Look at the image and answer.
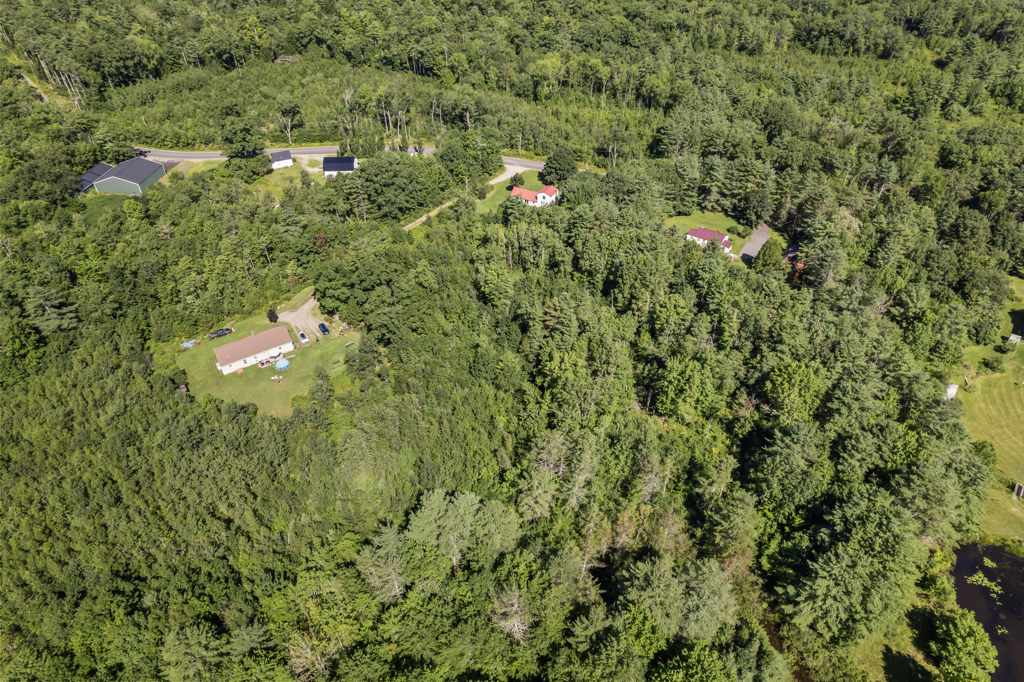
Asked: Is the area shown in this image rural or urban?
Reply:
rural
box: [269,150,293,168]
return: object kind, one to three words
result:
house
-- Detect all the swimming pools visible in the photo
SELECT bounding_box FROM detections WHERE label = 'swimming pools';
[275,358,291,372]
